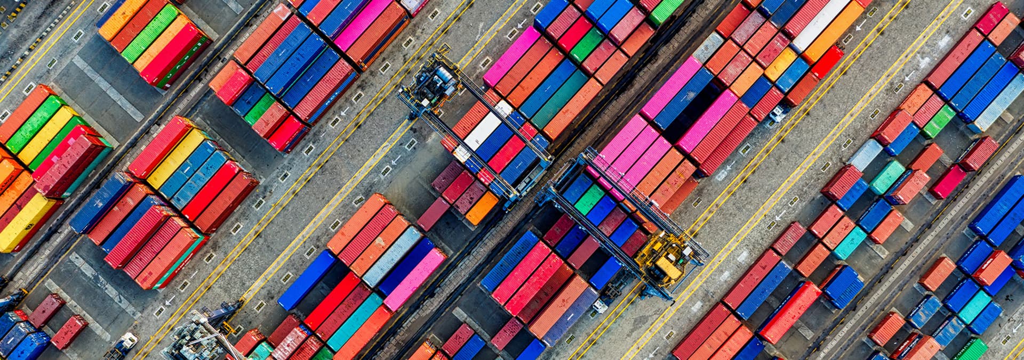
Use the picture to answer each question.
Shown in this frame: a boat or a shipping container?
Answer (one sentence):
This aerial view contains a shipping container.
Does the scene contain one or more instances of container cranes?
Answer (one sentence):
Yes, looking at the shot, I can spot a container crane.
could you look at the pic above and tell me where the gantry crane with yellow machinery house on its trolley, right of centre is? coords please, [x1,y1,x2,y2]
[535,144,710,306]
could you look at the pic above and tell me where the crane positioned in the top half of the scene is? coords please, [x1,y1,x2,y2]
[393,41,564,215]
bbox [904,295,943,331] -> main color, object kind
blue shipping container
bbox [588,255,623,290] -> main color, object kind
blue shipping container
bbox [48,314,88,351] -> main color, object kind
red shipping container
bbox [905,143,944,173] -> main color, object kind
red shipping container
